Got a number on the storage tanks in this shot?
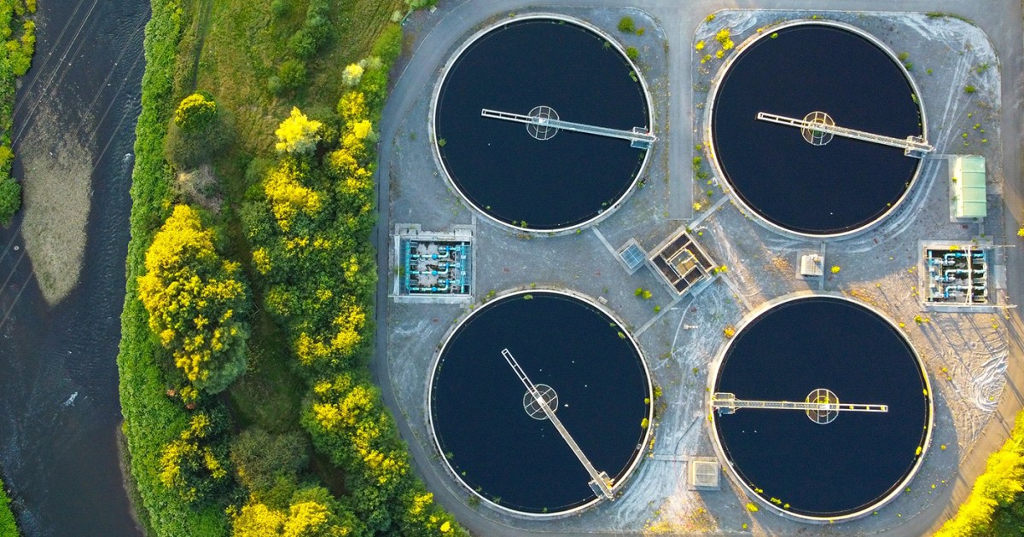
4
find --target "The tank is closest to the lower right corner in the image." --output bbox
[701,290,933,523]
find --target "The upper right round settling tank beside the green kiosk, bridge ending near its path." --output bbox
[699,20,937,243]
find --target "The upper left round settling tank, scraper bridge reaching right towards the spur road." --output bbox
[430,14,659,237]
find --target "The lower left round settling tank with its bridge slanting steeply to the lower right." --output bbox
[425,286,656,520]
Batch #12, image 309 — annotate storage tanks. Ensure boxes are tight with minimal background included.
[701,290,933,523]
[425,286,656,520]
[699,20,937,243]
[430,14,659,237]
